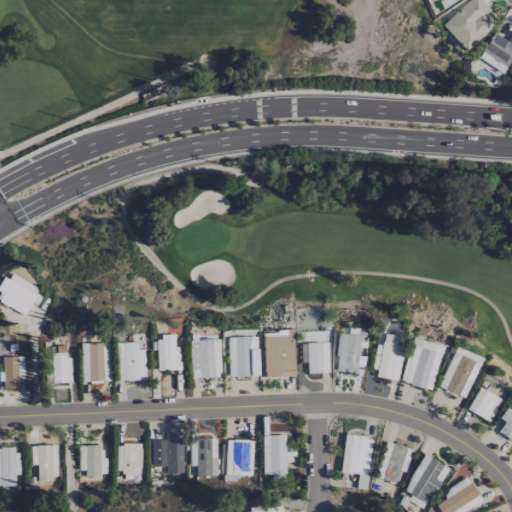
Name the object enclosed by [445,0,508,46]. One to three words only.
house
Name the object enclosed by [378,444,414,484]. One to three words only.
house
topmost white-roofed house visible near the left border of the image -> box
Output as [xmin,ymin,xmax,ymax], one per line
[0,275,40,314]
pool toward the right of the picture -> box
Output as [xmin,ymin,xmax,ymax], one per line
[478,69,497,84]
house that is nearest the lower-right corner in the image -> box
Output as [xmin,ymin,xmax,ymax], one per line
[430,477,484,512]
